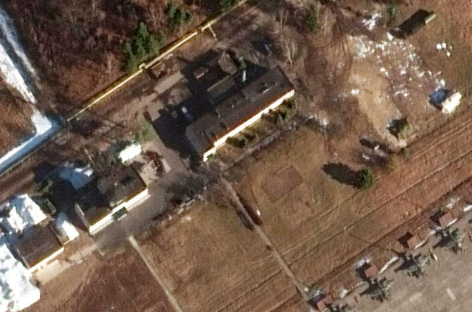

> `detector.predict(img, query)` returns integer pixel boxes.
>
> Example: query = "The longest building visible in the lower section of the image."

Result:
[75,168,151,235]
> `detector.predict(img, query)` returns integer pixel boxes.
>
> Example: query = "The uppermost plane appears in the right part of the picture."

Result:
[439,228,468,256]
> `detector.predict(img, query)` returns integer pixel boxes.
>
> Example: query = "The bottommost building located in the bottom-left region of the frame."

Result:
[16,227,65,269]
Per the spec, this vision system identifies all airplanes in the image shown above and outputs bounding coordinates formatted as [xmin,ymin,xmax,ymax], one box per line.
[333,301,358,312]
[439,228,468,256]
[368,276,396,303]
[402,253,432,281]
